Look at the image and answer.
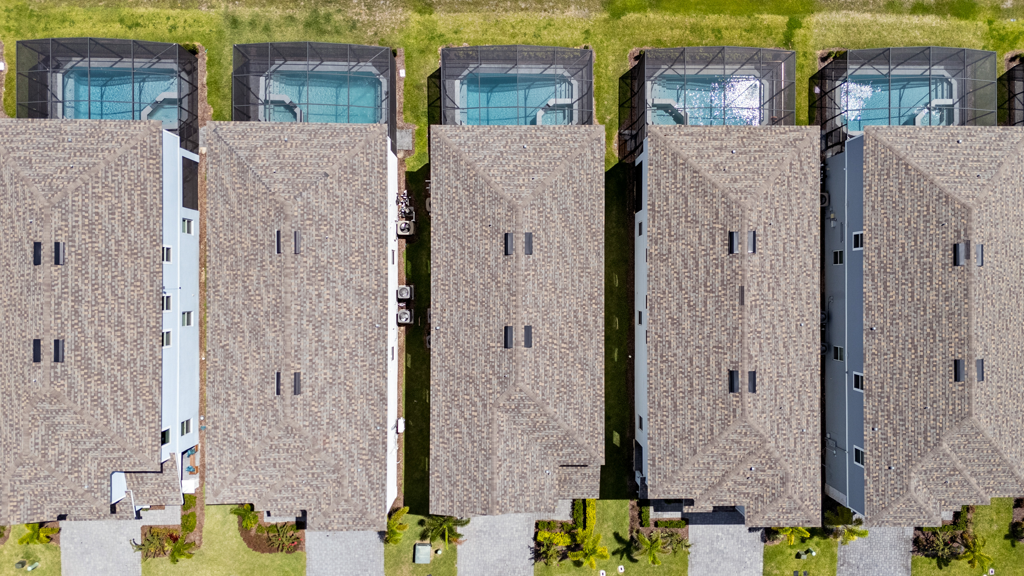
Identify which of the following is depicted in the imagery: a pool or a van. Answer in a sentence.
Visible in the photo is a pool.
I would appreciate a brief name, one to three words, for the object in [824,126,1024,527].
house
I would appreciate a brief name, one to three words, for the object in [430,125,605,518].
house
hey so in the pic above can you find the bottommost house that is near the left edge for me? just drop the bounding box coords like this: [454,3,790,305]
[0,120,200,525]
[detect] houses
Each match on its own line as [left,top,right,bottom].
[430,125,605,518]
[634,126,821,527]
[206,122,400,531]
[0,120,200,525]
[824,126,1024,527]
